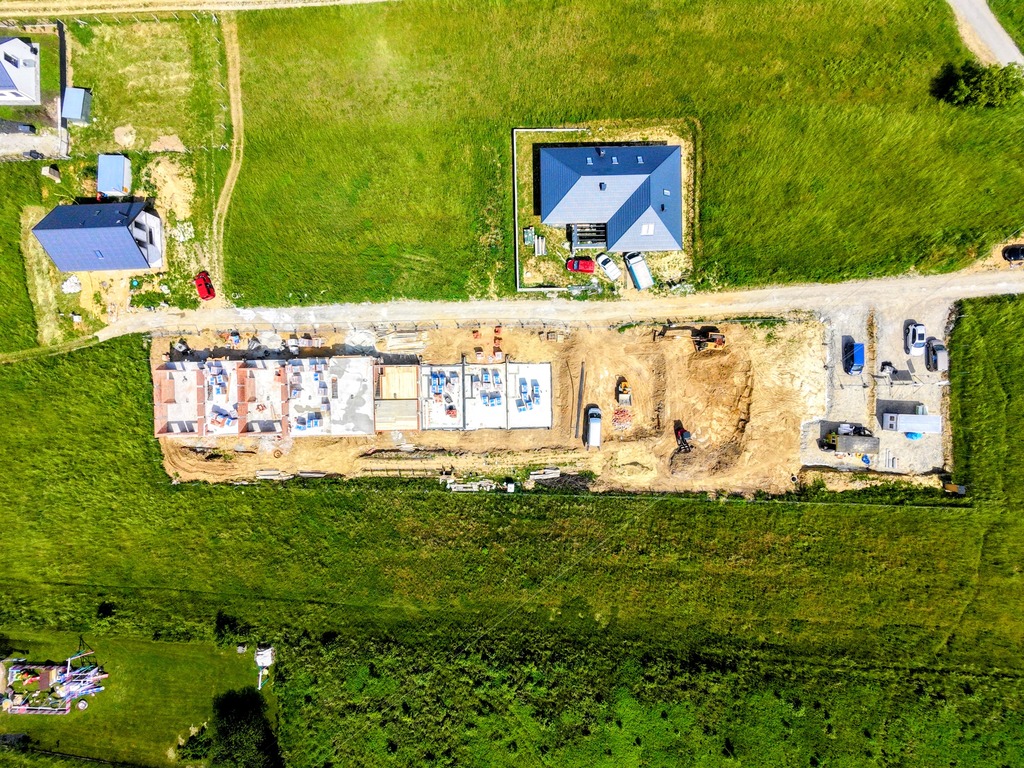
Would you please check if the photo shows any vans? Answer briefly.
Yes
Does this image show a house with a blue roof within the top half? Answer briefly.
Yes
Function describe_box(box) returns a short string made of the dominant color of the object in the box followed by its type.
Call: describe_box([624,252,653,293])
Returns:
white van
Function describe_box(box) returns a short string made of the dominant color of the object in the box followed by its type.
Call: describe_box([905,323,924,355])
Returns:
white car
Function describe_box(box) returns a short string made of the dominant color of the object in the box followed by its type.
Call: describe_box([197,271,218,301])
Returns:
red car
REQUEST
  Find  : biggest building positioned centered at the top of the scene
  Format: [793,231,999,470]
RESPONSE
[540,145,683,253]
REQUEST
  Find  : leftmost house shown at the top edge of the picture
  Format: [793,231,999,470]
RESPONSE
[0,38,38,104]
